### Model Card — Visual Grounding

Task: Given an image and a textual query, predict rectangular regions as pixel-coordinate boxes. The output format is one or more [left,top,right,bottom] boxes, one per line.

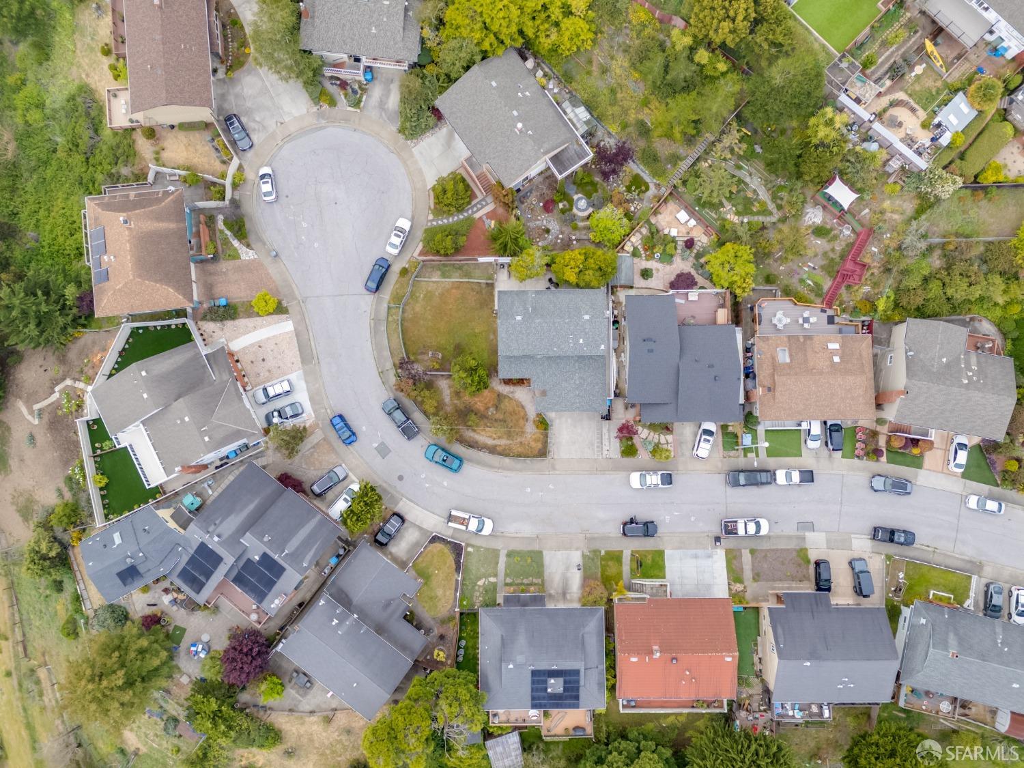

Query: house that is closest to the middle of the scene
[498,288,608,413]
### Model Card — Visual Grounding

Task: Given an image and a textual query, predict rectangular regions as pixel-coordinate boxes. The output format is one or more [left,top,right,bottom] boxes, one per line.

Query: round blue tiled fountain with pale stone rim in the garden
[569,190,594,216]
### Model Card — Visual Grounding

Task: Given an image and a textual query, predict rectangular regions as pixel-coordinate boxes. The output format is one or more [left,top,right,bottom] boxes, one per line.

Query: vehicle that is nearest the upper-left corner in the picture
[221,108,255,154]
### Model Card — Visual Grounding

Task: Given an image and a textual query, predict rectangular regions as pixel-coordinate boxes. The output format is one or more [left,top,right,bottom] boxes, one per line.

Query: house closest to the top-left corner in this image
[101,0,228,135]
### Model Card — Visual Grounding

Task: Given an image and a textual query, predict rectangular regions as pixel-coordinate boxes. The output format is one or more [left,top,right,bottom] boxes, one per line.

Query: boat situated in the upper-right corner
[924,39,946,72]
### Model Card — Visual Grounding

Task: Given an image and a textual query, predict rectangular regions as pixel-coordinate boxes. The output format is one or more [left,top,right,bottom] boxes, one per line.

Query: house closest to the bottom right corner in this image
[892,599,1024,739]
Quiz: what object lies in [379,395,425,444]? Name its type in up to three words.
truck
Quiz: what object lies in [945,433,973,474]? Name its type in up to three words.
car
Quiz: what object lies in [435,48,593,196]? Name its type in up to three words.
house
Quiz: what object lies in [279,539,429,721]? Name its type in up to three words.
house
